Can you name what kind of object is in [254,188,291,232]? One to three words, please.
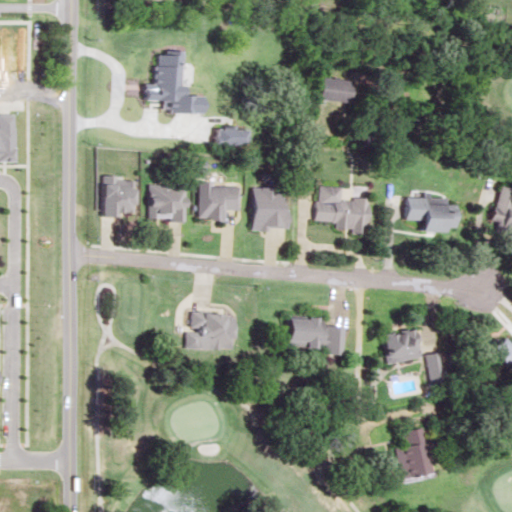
house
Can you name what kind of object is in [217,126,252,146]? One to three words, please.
shed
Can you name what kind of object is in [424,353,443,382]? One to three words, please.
building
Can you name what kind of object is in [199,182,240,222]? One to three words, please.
house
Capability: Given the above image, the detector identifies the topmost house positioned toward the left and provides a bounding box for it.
[145,50,209,113]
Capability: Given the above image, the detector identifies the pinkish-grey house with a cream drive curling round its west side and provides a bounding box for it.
[182,312,238,350]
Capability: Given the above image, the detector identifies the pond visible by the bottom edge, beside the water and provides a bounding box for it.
[129,460,264,512]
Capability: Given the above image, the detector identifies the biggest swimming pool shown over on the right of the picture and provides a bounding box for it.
[388,376,422,400]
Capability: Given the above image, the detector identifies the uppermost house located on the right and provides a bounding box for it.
[324,78,357,104]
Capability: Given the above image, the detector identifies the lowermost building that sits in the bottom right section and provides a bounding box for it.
[396,428,437,486]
